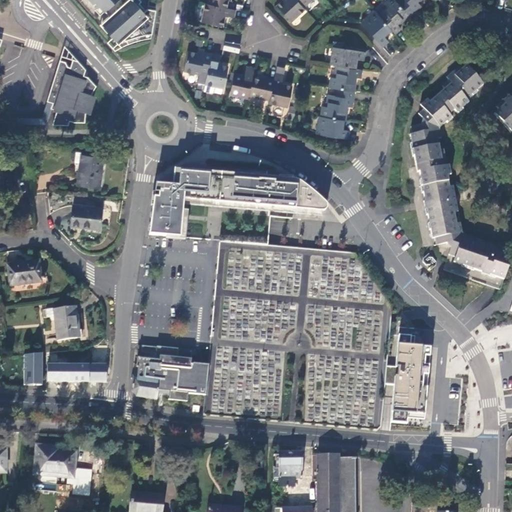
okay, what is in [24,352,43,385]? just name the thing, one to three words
barn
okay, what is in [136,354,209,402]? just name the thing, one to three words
building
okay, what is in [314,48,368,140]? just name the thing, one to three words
house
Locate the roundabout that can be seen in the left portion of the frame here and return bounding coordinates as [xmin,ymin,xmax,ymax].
[146,110,180,144]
